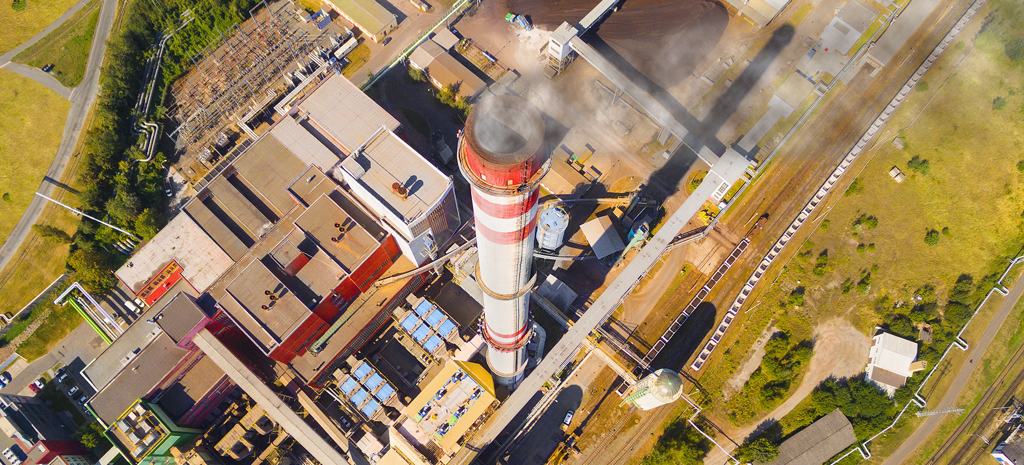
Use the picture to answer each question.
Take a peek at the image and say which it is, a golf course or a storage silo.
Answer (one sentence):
The one in the frame is a storage silo.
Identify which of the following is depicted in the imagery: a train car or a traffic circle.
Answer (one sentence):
Of the two, only a train car appears.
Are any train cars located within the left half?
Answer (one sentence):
No, no train car can be made out within the left half.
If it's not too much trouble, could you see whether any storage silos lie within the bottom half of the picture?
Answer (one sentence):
Yes, looking within the bottom half of the picture, one can make out a storage silo.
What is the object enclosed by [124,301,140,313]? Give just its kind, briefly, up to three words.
vehicle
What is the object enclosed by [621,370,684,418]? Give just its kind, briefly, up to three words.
silo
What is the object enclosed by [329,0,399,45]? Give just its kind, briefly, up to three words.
building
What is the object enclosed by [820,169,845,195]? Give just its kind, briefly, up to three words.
rail car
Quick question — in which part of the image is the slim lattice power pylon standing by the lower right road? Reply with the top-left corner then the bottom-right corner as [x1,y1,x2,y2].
[916,402,967,420]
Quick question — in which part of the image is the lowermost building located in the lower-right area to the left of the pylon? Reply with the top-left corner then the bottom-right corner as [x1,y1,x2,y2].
[746,407,860,465]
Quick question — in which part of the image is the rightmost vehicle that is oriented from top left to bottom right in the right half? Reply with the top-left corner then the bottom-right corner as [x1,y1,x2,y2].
[697,208,715,225]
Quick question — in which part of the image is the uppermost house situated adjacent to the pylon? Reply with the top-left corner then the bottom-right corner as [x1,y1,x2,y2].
[865,325,929,394]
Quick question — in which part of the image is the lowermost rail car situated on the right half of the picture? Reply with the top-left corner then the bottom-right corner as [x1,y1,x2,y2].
[617,365,645,394]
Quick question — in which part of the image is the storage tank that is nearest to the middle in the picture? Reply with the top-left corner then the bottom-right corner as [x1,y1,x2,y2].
[538,212,568,254]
